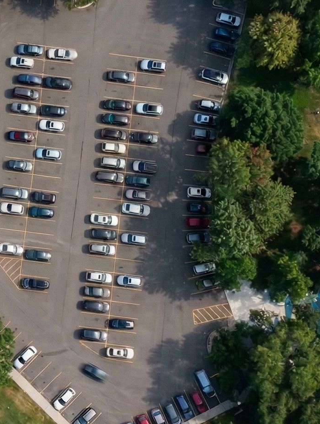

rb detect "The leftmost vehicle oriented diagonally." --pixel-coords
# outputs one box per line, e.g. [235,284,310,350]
[14,345,36,369]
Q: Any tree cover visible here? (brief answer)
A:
Yes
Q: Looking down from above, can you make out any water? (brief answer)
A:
No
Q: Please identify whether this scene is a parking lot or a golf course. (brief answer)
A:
parking lot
